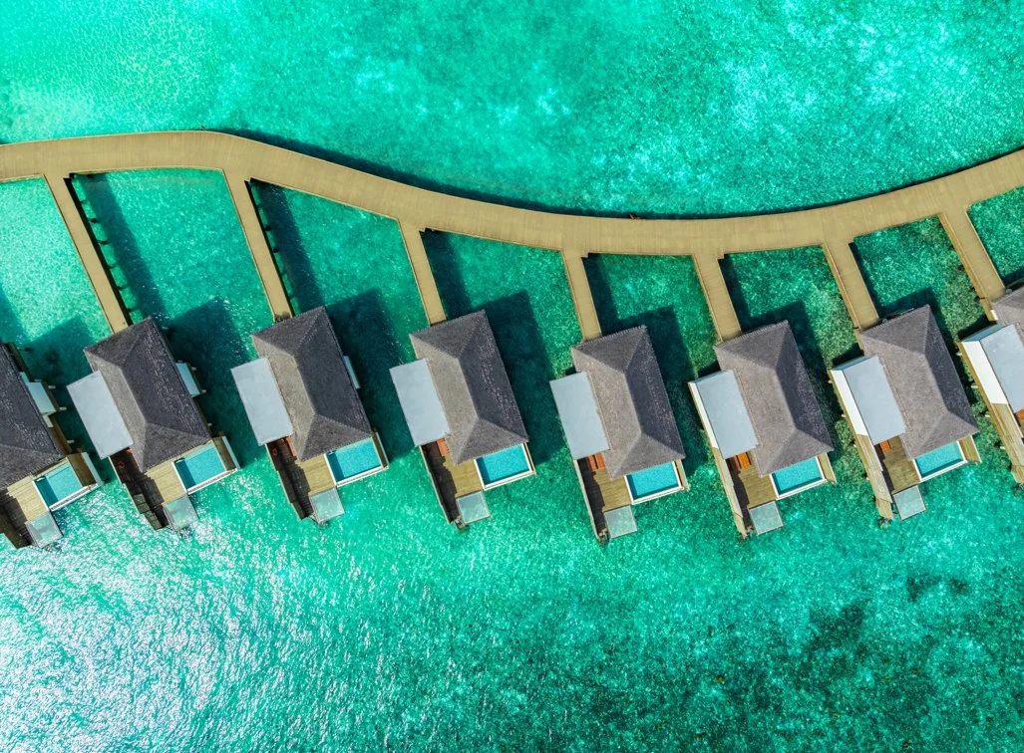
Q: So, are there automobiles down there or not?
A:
No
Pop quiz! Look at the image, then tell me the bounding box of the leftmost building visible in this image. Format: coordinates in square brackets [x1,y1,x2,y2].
[0,334,108,550]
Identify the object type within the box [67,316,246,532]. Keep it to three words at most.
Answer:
house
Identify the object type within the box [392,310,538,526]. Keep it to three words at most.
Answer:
house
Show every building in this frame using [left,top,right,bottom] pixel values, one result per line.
[0,334,108,550]
[67,316,246,532]
[826,305,982,522]
[689,321,834,536]
[392,310,538,526]
[954,275,1024,477]
[234,307,392,523]
[551,326,687,539]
